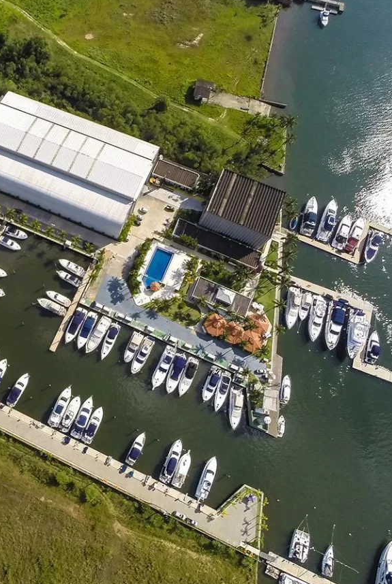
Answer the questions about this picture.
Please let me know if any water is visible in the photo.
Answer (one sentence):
Yes, water can be seen from above here.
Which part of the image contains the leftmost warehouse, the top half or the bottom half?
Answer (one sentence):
The top half of the photo is where the leftmost warehouse is.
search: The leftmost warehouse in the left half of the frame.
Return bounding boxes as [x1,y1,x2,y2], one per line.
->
[0,91,158,238]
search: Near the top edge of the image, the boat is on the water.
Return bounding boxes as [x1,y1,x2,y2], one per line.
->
[317,6,333,27]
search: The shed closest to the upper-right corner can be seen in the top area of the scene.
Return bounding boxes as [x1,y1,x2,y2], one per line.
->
[193,79,215,102]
